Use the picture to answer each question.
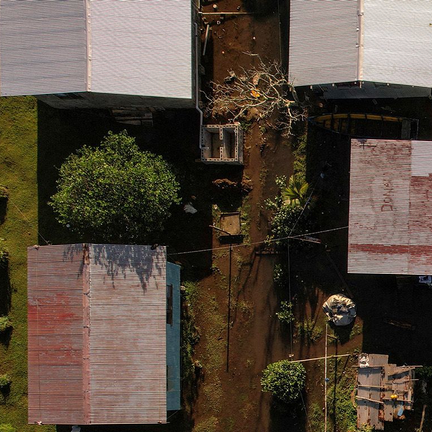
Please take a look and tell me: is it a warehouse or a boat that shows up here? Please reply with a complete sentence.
The image shows a boat.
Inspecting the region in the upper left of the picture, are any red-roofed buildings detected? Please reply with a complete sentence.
No, no red-roofed building can be made out in the upper left of the picture.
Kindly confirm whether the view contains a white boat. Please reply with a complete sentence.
No, the picture doesn't show any white boat.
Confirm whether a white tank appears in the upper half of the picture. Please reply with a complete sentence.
No, the scene shows no white tank in the upper half of the picture.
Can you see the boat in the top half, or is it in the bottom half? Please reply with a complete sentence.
The boat sits in the top half of the picture.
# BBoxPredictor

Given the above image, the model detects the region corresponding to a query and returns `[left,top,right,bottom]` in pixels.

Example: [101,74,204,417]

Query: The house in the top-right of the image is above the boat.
[289,0,432,101]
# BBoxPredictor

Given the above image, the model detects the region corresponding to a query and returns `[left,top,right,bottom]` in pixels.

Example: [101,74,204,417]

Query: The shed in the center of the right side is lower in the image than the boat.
[350,139,432,278]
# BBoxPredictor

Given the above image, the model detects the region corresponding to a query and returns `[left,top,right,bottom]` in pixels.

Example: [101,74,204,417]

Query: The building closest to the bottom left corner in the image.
[27,243,179,427]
